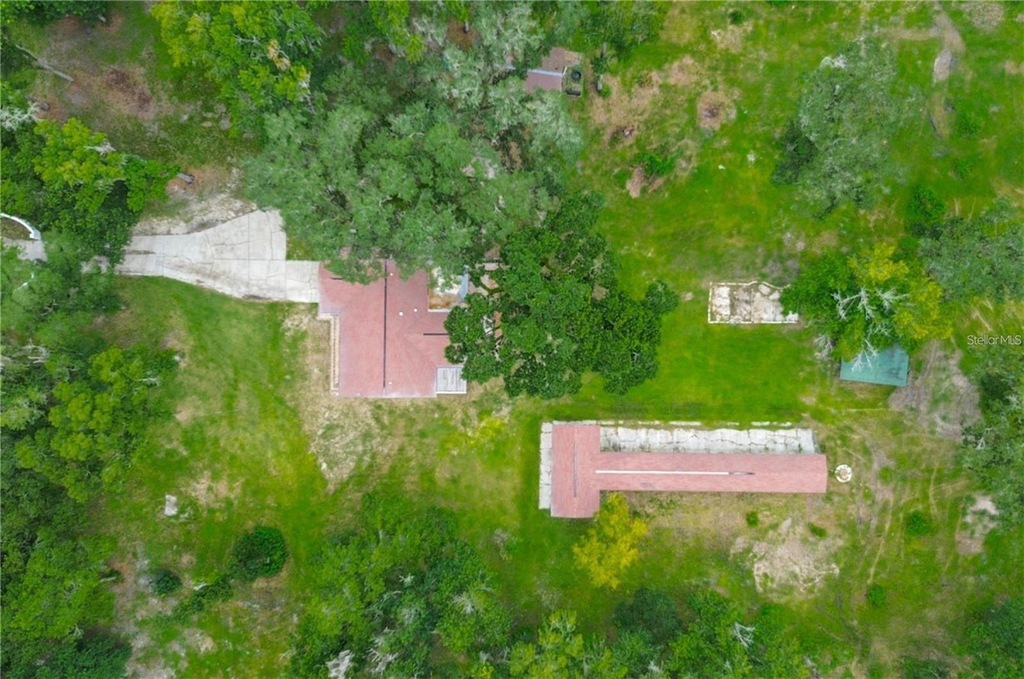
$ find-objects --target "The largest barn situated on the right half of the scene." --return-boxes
[551,424,828,518]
